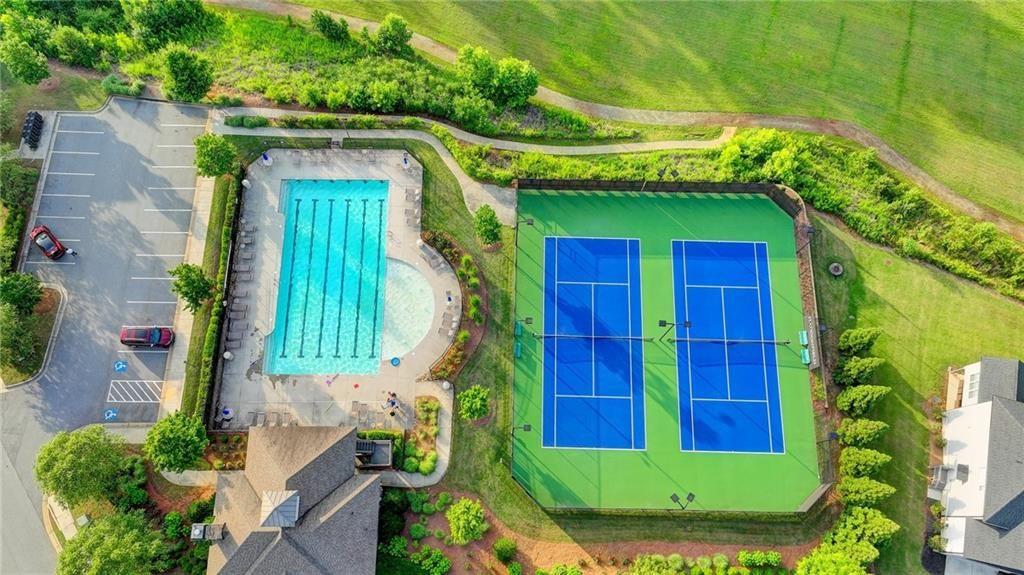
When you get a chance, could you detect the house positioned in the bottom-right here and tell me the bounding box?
[927,356,1024,573]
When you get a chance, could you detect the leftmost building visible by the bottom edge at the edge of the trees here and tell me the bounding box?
[188,426,382,575]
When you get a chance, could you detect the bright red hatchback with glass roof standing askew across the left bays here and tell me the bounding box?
[33,227,65,261]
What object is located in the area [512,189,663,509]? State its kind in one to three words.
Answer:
tennis court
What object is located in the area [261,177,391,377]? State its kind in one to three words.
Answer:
swimming pool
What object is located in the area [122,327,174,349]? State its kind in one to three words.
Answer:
car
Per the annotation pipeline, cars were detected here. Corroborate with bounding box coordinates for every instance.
[122,327,174,349]
[33,227,65,261]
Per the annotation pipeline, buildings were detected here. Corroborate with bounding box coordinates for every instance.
[188,426,382,575]
[927,356,1024,573]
